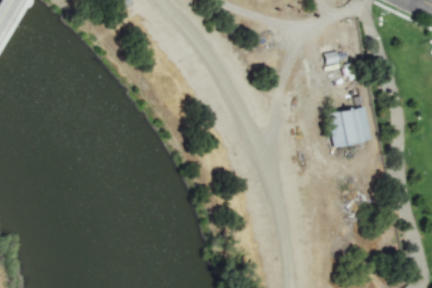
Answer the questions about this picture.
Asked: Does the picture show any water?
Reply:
Yes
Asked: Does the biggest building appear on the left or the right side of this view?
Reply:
right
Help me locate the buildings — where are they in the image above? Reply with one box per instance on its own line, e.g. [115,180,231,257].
[333,106,372,147]
[324,52,348,64]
